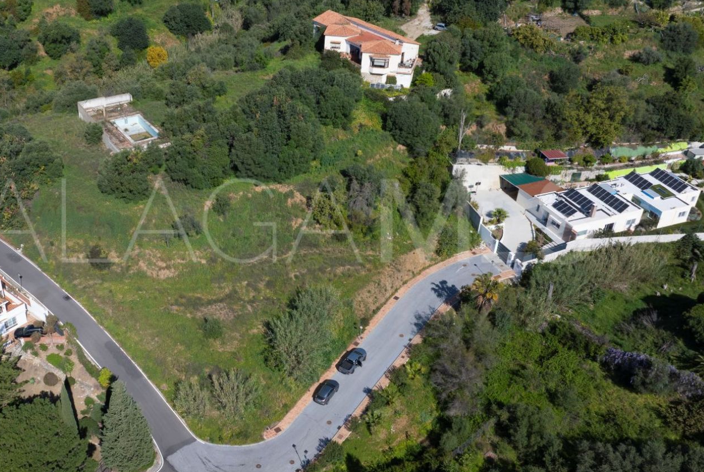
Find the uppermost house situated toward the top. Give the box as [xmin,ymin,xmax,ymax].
[312,9,426,79]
